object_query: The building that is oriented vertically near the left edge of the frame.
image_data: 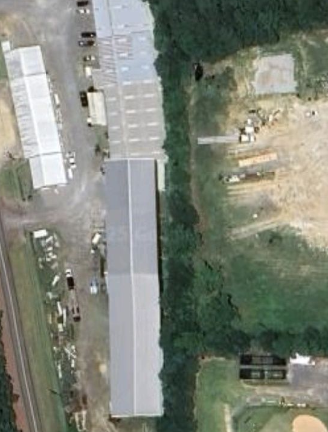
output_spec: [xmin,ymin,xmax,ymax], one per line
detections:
[1,41,68,190]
